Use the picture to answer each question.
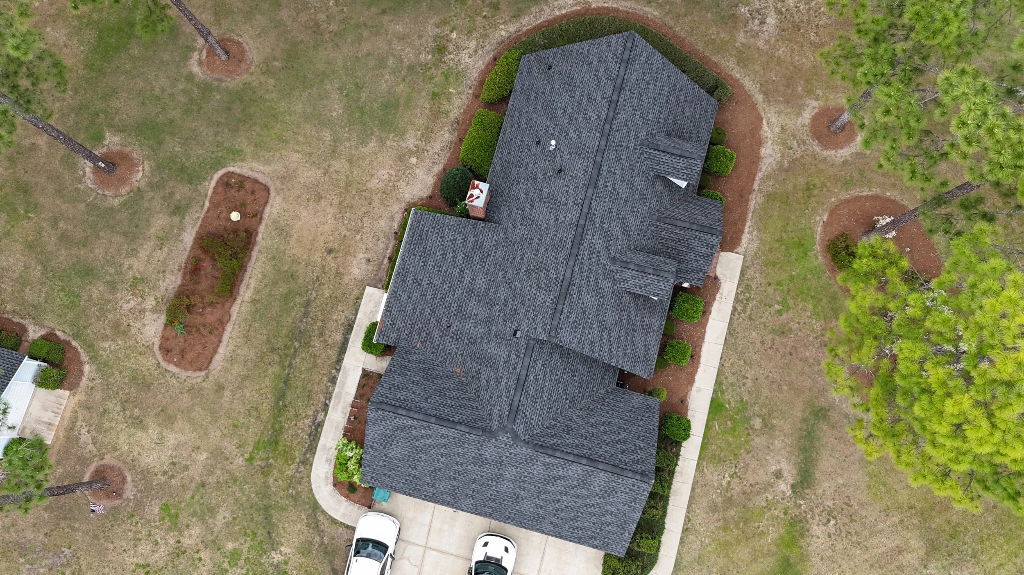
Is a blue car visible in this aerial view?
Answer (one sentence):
No, the picture doesn't show any blue car.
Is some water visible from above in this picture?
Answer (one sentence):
No, there's no water in this view.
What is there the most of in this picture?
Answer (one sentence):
Most of the picture is covered by grass.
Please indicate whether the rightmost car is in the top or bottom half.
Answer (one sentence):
The rightmost car sits in the bottom half of the picture.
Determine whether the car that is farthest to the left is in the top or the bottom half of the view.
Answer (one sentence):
The car that is farthest to the left is in the bottom half of the image.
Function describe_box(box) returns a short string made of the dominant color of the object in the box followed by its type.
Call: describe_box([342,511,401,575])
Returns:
white car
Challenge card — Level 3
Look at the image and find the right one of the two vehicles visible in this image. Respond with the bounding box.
[460,532,517,575]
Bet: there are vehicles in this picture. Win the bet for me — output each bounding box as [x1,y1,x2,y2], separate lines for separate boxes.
[342,511,401,575]
[460,532,517,575]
